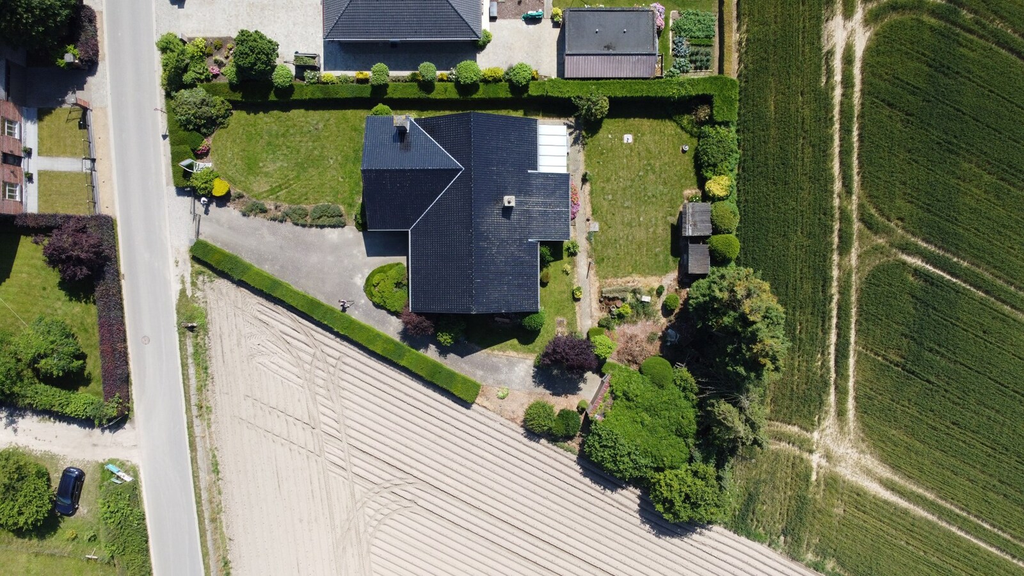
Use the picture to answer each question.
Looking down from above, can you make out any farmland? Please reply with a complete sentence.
Yes, there's farmland in this view.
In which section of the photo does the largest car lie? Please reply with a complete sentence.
The largest car appears toward the bottom left of the photo.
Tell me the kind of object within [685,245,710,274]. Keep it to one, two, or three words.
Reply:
shed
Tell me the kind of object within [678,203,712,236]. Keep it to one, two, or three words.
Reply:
shed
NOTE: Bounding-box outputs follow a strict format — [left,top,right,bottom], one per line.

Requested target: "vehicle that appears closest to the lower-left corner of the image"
[52,465,88,519]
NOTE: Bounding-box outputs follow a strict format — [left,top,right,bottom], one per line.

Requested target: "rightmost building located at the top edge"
[564,8,657,80]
